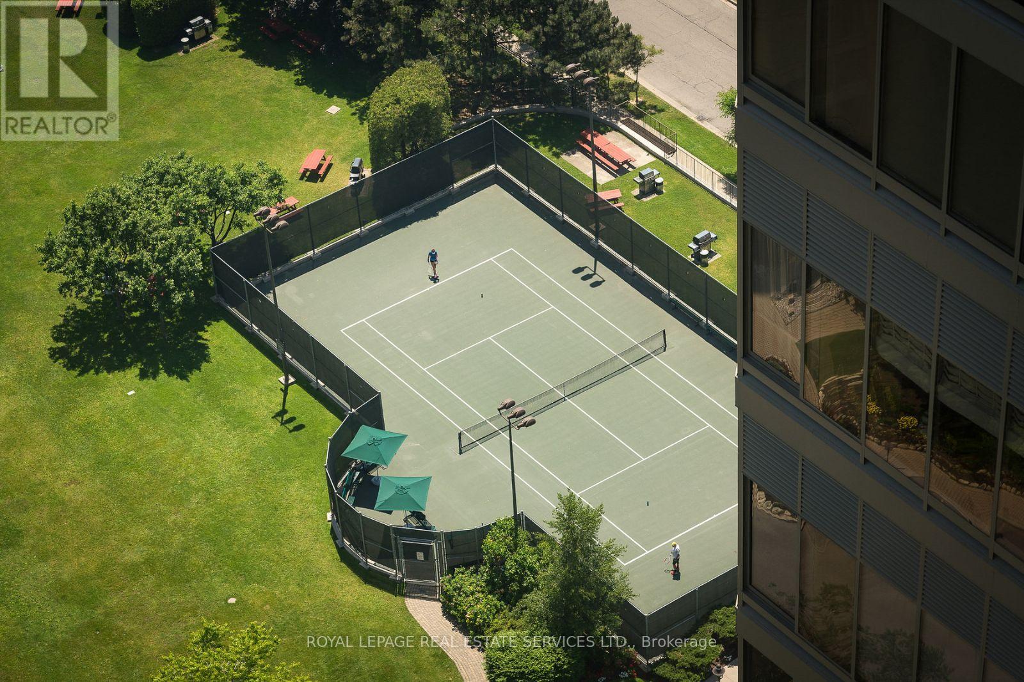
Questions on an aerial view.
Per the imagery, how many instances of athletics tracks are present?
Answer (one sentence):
Not a single athletics track can be seen.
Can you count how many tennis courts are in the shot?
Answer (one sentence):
The count comes to 1 tennis court.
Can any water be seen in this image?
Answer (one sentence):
No, there is no water in the image.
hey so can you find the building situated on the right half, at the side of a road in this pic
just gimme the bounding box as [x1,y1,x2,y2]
[733,0,1024,682]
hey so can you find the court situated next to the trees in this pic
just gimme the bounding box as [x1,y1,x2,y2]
[221,169,736,659]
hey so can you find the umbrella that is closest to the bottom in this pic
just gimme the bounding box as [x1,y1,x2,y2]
[375,476,432,528]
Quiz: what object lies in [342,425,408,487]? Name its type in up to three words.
umbrella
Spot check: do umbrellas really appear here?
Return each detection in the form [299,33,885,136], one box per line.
[375,476,432,528]
[342,425,408,487]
